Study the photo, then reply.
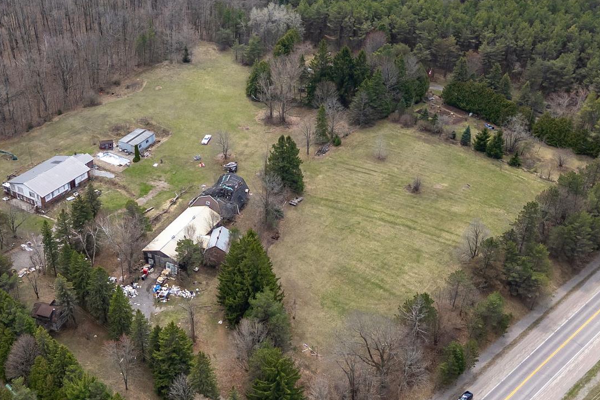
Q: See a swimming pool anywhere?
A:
Yes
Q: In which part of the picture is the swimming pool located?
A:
left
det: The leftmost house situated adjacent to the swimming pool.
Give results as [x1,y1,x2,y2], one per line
[2,154,96,209]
